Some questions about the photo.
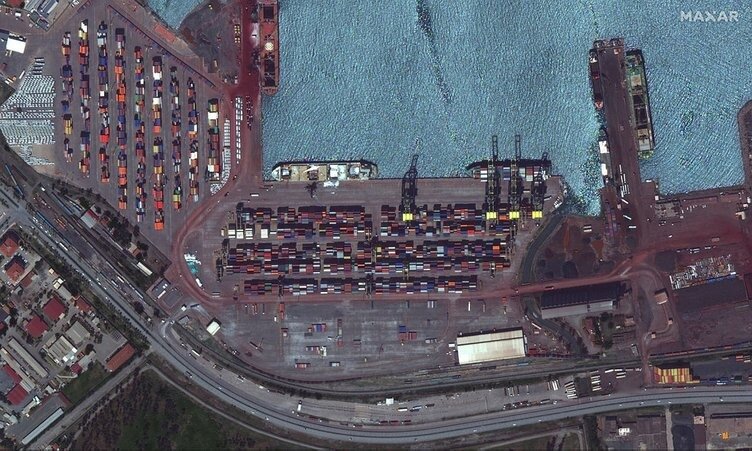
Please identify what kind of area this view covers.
port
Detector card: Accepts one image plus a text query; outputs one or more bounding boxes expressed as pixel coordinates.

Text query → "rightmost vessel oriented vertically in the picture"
[625,48,654,158]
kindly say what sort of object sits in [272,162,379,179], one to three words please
ship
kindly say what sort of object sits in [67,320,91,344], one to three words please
building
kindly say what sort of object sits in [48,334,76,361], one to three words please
building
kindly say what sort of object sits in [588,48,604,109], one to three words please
ship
